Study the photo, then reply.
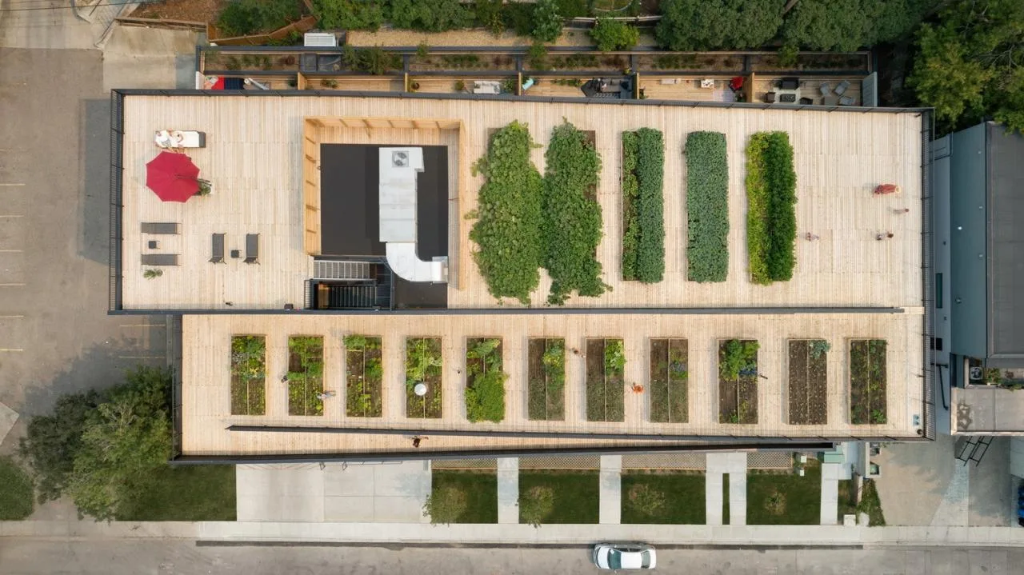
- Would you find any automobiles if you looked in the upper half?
No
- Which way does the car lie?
from side to side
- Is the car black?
No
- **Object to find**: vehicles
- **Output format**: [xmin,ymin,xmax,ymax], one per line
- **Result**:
[592,541,657,574]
